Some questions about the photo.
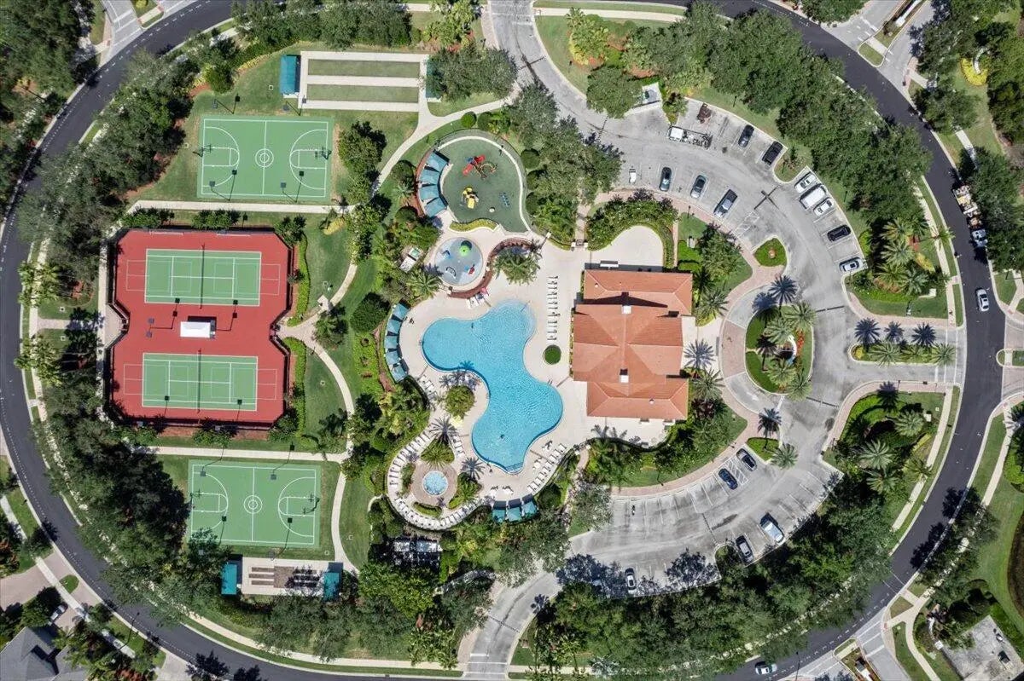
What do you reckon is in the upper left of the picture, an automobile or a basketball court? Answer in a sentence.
Visible in the upper left of the picture is a basketball court.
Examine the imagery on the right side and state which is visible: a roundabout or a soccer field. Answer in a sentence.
It is a roundabout that can be seen on the right side.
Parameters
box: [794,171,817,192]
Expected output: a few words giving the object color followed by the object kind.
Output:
white car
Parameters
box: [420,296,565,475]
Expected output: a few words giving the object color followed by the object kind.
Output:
blue swimming pool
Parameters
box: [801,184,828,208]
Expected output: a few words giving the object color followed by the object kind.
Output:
white vehicle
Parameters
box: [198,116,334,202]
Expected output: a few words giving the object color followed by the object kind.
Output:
green basketball court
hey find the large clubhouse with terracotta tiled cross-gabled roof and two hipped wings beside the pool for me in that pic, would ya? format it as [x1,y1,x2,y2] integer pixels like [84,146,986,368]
[573,263,693,420]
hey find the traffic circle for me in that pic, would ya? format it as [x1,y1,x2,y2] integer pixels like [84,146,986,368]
[744,302,814,394]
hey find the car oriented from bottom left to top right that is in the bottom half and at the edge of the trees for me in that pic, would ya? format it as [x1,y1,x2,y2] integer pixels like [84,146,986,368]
[47,603,69,625]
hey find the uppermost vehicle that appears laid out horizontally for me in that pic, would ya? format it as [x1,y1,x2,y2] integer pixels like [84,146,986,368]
[667,126,714,148]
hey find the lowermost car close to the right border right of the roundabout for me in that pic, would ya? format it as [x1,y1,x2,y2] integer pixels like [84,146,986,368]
[974,288,989,313]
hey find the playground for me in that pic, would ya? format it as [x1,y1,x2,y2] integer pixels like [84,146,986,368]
[413,125,538,232]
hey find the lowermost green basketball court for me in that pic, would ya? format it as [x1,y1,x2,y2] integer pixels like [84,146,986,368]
[186,462,322,547]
